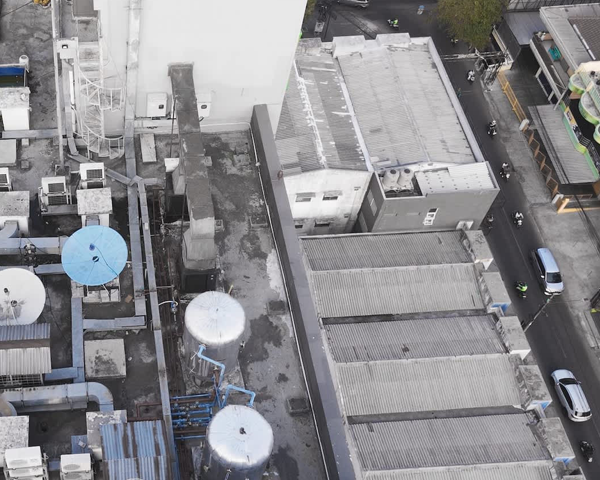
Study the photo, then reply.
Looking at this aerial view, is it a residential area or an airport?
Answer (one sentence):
What you see here is a residential area.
